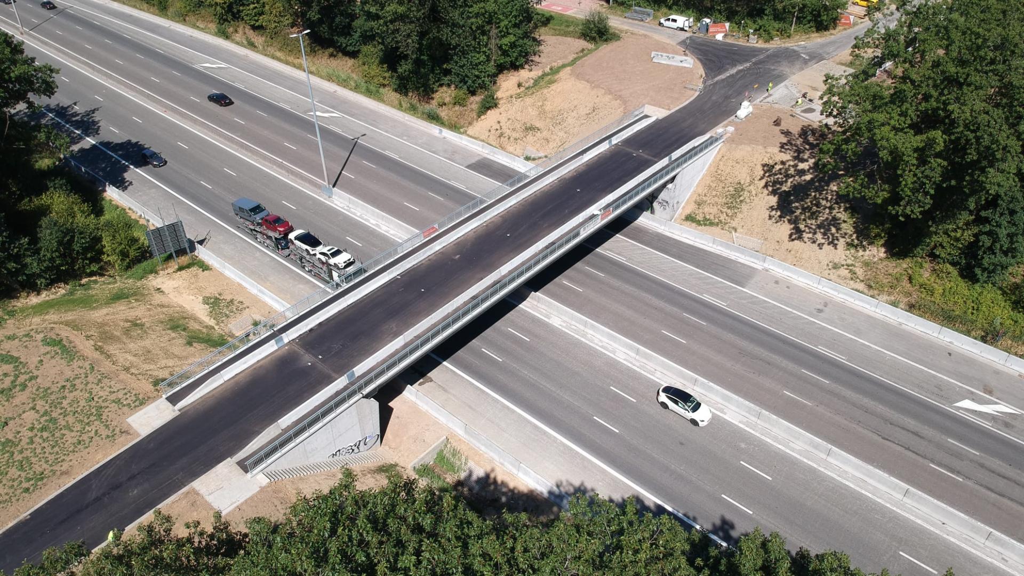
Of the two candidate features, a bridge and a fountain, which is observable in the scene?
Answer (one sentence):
There is a bridge in the scene.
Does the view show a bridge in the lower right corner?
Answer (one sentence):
No, there is no bridge in the lower right corner.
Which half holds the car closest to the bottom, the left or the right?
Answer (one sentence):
The car closest to the bottom appears in the right half of the scene.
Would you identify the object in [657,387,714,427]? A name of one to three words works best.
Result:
car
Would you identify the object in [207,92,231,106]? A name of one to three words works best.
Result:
car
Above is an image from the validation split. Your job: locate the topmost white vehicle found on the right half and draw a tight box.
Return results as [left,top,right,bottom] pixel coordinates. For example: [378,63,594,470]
[657,13,694,30]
